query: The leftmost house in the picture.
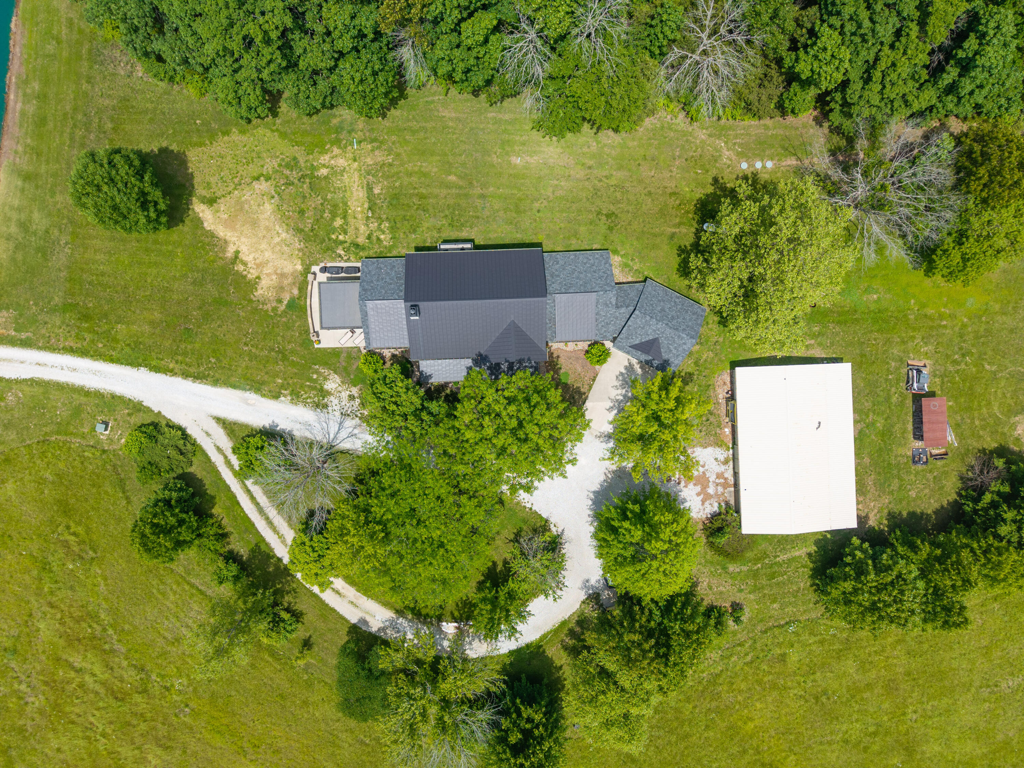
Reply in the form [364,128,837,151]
[317,241,708,384]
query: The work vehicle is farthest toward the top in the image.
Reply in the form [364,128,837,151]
[902,360,929,394]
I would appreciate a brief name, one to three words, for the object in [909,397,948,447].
shed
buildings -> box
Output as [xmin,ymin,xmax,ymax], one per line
[728,363,858,535]
[317,241,708,384]
[909,397,948,447]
